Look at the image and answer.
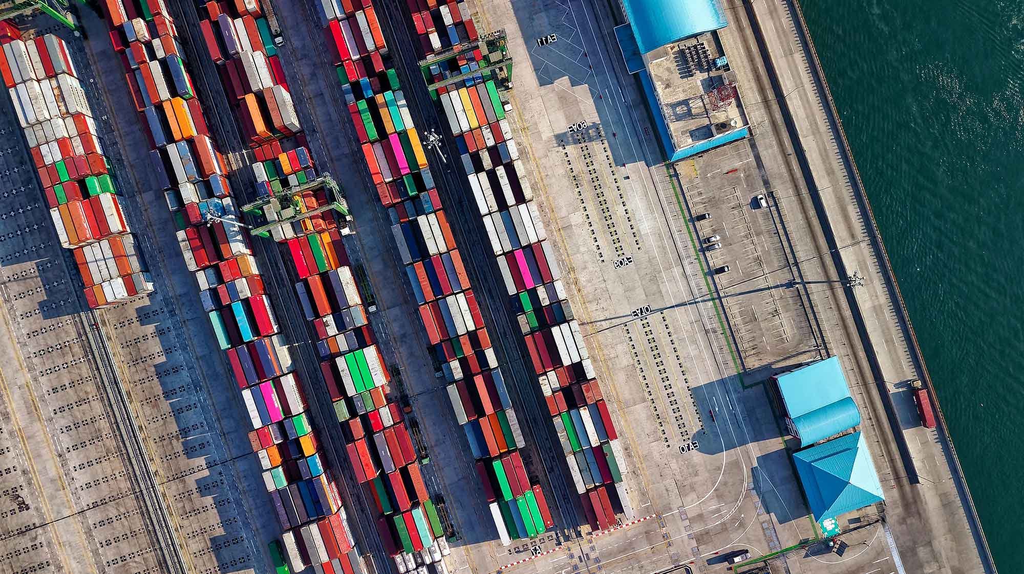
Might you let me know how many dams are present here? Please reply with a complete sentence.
There are no dams in this view.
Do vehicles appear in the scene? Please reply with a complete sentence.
Yes, a vehicle is visible in the scene.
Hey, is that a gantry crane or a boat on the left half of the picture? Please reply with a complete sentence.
Visible on the left half of the picture is a gantry crane.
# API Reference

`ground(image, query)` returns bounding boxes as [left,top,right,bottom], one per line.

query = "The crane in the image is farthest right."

[414,25,517,116]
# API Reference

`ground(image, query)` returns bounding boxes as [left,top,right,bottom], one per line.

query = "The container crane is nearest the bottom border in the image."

[237,175,352,248]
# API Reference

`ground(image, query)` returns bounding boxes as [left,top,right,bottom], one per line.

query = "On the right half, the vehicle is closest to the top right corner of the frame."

[755,193,767,210]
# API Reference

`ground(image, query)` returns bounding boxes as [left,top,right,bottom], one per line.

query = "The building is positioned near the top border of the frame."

[613,0,751,167]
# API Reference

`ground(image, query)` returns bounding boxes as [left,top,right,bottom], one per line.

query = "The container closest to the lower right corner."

[912,388,938,429]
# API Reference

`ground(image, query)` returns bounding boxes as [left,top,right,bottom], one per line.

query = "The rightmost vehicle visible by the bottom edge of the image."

[730,550,749,566]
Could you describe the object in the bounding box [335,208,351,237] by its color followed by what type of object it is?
white vehicle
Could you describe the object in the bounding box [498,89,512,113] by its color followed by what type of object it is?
white vehicle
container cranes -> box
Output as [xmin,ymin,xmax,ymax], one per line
[414,25,517,116]
[237,175,352,248]
[0,0,86,40]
